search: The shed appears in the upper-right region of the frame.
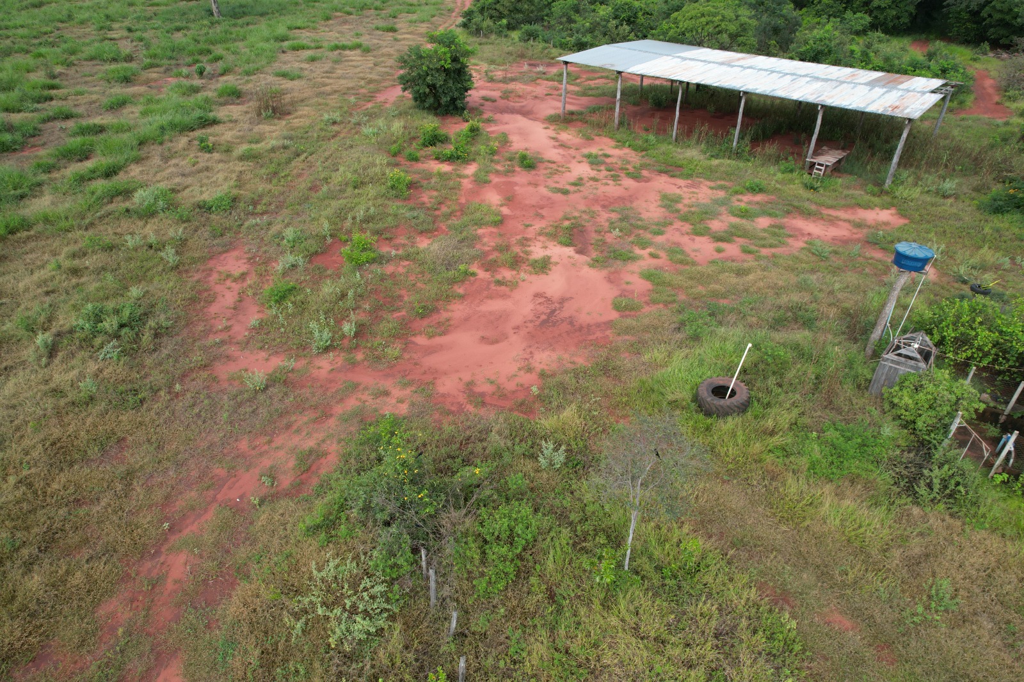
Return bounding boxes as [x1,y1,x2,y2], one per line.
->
[556,39,959,185]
